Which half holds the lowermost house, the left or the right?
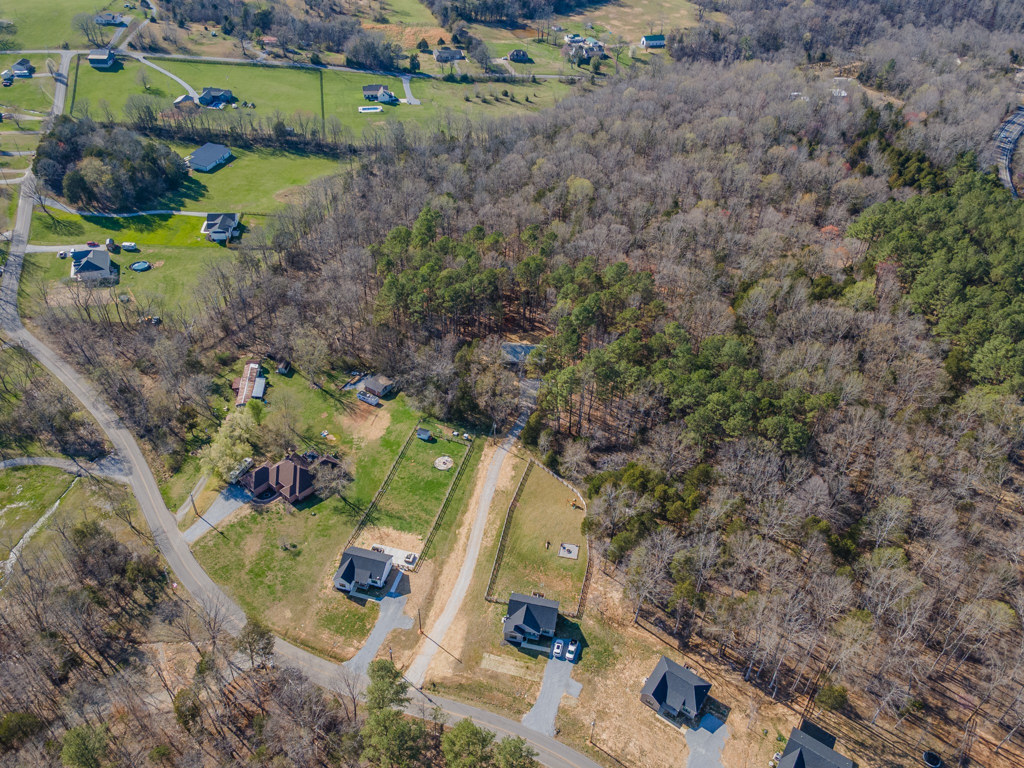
right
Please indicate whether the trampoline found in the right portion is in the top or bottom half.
bottom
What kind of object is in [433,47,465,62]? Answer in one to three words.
house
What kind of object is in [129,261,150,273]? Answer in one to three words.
swimming pool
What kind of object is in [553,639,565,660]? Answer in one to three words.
vehicle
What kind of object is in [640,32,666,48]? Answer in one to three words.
barn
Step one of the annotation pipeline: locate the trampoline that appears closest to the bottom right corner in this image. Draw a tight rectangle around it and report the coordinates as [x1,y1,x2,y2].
[921,746,946,768]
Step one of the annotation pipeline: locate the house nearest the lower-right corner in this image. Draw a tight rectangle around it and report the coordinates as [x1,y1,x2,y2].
[773,719,853,768]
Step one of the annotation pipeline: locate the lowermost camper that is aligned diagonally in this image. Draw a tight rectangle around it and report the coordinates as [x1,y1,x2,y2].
[218,457,259,488]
